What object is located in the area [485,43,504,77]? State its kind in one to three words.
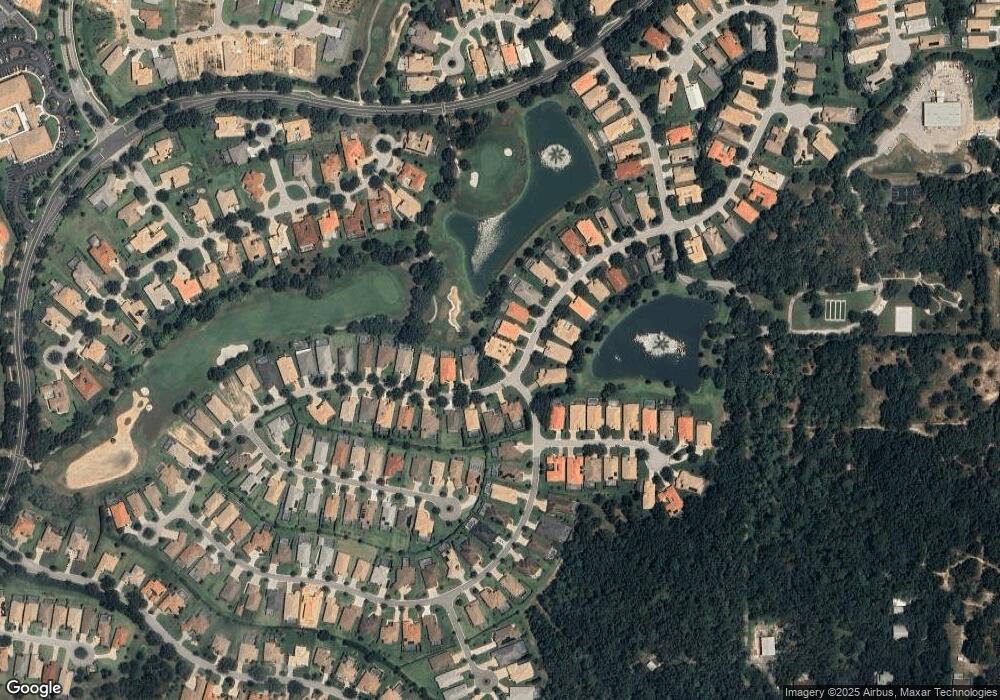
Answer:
house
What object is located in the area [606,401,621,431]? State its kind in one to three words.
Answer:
house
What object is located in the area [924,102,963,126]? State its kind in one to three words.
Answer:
building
